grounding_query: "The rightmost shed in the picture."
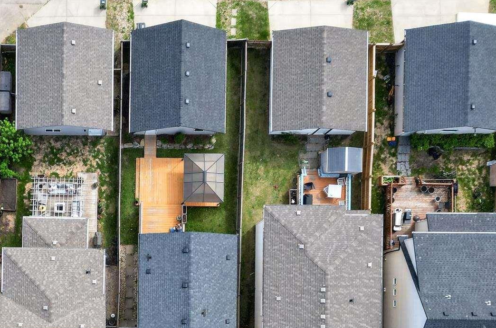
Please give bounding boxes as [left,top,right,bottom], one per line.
[479,162,496,188]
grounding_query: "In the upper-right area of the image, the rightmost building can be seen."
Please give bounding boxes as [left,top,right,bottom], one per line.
[392,20,496,137]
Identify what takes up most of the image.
buildings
